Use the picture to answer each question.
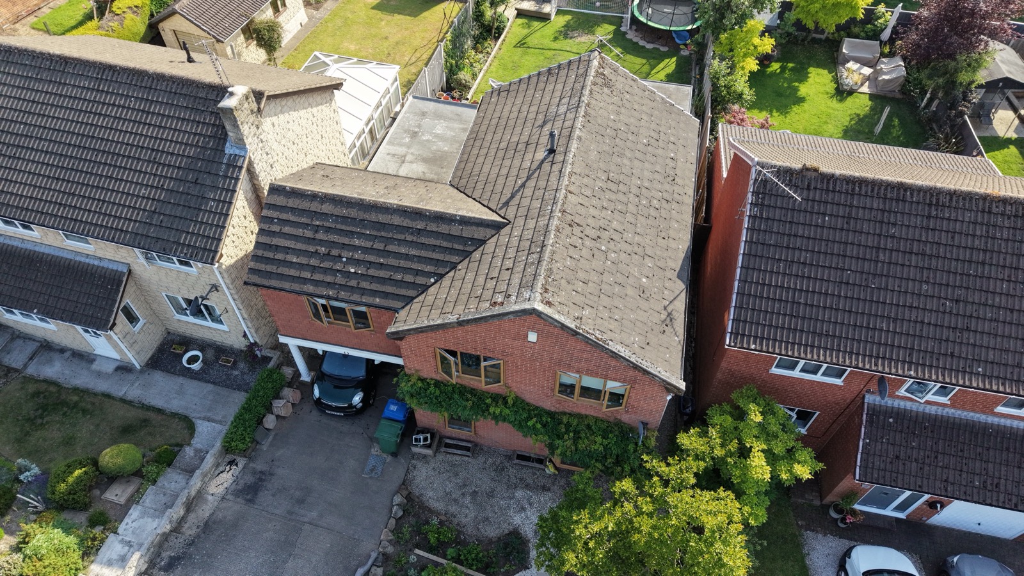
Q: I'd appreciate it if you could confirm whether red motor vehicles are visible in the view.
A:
No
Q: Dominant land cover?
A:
buildings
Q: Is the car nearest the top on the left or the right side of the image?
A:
left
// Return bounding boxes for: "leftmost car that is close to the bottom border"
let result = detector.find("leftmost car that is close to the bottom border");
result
[834,537,915,576]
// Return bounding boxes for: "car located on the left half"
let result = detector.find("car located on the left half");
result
[318,348,388,417]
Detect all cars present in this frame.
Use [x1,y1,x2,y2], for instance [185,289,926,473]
[939,558,1012,576]
[834,537,915,576]
[318,348,388,417]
